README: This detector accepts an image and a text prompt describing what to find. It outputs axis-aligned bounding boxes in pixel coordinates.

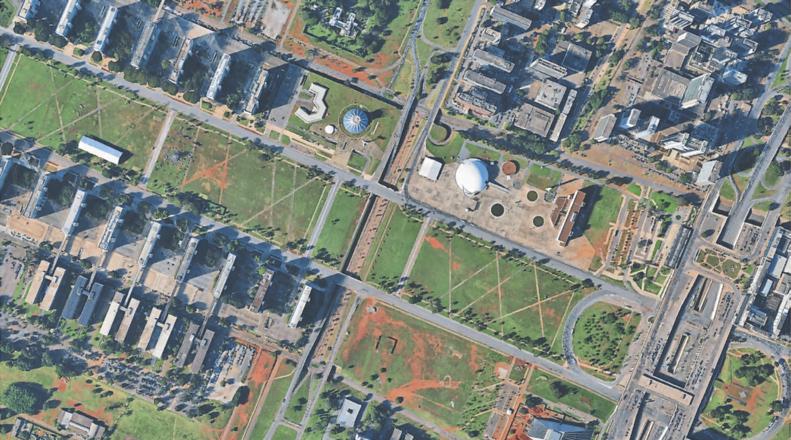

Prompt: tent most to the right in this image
[419,157,443,181]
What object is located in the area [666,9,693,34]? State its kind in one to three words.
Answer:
building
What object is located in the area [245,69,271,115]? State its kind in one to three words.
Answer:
building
